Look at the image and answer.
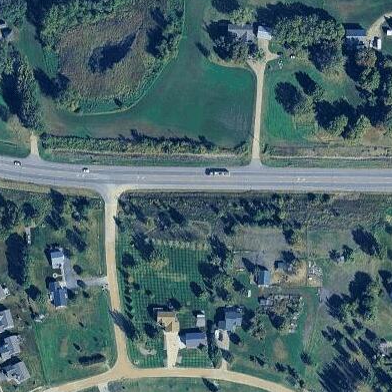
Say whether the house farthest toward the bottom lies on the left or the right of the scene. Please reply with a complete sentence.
The house farthest toward the bottom sits on the left side.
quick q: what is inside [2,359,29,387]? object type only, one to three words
house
